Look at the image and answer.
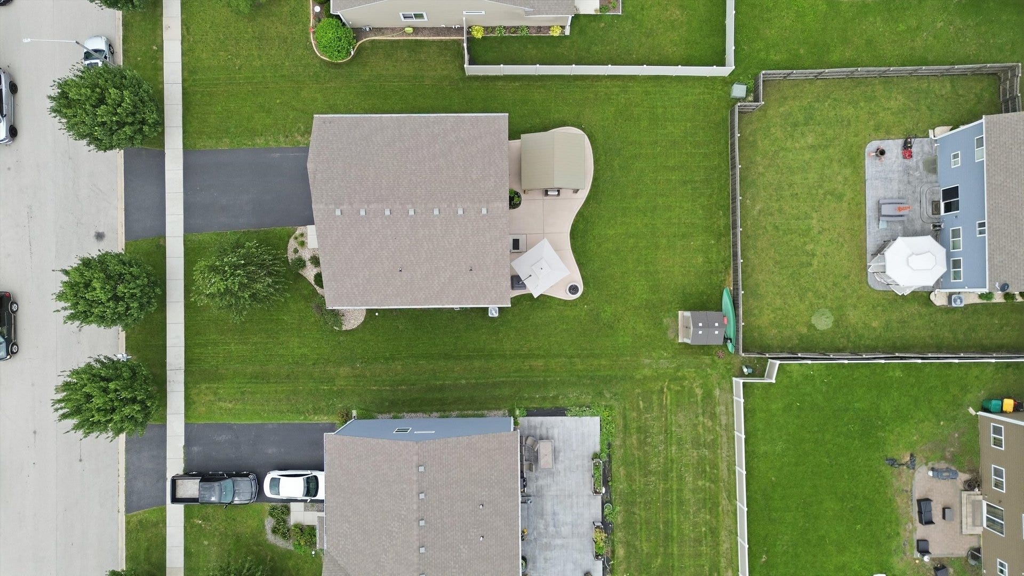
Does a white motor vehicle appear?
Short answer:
Yes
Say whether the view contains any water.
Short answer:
No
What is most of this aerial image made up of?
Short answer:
grass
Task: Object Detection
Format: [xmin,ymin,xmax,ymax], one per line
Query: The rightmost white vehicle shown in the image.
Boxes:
[263,468,323,503]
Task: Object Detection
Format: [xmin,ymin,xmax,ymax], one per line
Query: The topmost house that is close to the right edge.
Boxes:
[930,112,1024,297]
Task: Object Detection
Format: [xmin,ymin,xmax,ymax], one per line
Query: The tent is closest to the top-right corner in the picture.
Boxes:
[865,235,947,291]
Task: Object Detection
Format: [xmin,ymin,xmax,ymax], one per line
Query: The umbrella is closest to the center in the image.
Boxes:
[511,239,570,298]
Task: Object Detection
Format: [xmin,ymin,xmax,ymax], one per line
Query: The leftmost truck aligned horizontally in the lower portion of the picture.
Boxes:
[170,470,260,509]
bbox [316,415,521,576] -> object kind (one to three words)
house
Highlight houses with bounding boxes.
[330,0,575,31]
[975,412,1024,576]
[305,113,509,309]
[930,112,1024,297]
[316,415,521,576]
